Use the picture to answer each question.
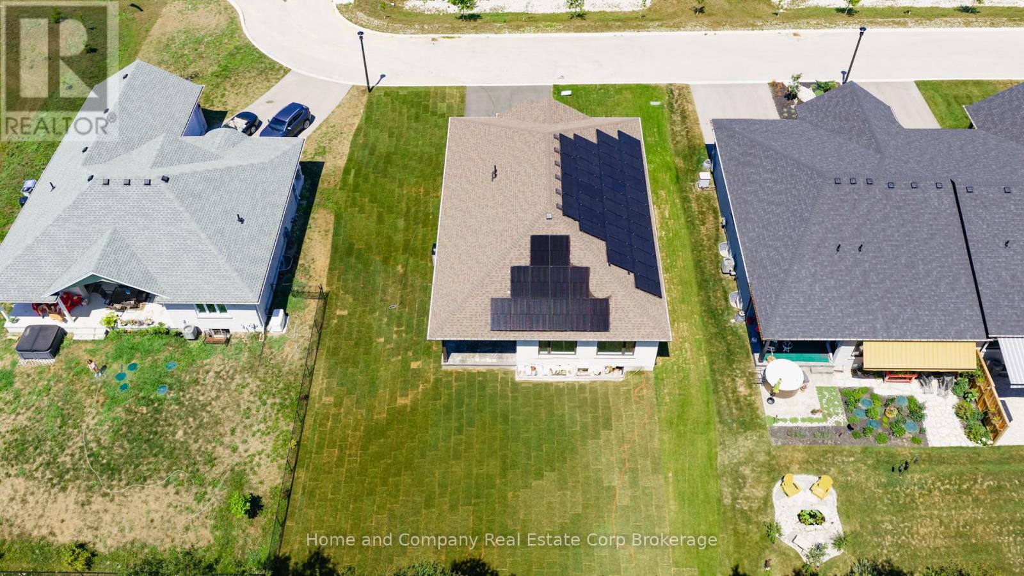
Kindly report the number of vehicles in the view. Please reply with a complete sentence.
The picture shows 2 vehicles.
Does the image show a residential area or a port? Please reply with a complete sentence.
The area seen from above is a residential area.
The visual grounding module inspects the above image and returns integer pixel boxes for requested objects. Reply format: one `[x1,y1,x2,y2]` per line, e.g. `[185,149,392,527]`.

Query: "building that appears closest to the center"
[425,98,673,370]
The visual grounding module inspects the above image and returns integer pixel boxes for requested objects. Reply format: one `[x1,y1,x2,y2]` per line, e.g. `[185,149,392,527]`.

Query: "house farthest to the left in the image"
[0,62,307,345]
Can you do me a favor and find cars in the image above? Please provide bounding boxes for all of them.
[255,102,313,138]
[230,108,272,137]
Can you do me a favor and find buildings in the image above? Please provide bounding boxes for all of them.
[710,80,990,370]
[425,98,673,370]
[0,62,307,345]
